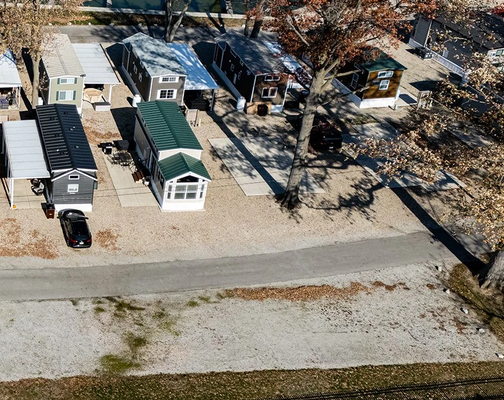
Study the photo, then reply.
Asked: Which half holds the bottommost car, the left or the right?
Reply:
left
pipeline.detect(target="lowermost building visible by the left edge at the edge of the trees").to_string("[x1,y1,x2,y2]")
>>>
[2,101,99,210]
